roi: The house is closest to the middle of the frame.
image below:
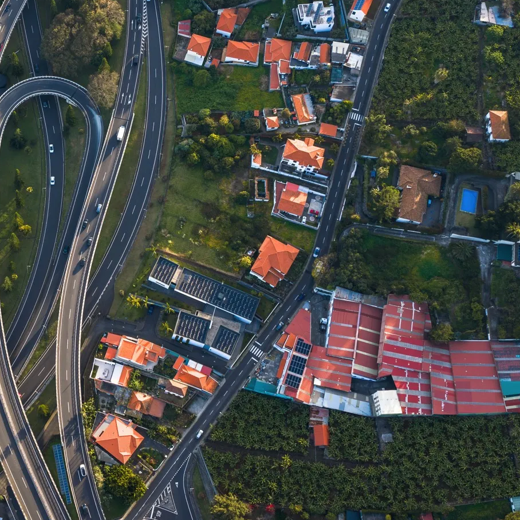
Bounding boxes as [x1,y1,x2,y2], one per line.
[249,236,299,290]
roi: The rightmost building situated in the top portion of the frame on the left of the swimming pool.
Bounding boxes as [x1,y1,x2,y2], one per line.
[395,164,438,226]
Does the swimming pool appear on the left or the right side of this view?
right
